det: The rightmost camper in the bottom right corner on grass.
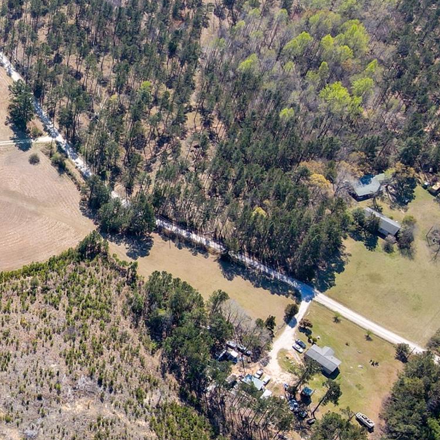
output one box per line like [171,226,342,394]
[353,413,374,429]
